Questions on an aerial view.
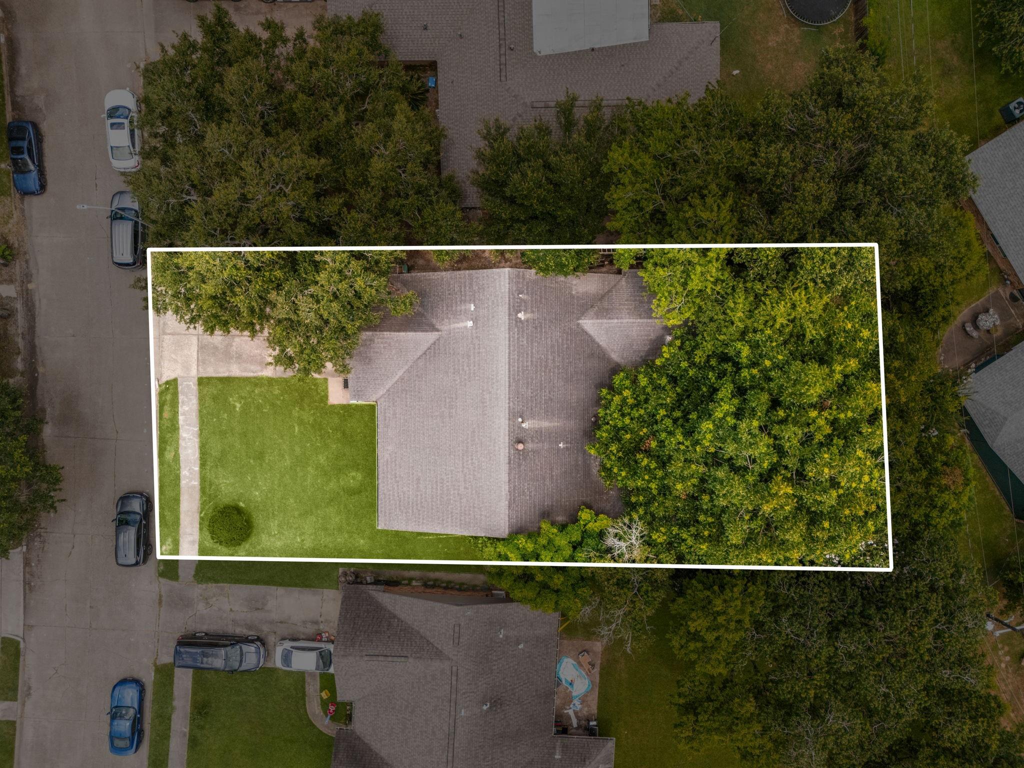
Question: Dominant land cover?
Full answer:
The bulk of the photo consists of trees.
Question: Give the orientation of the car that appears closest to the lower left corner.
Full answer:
I'd say the car that appears closest to the lower left corner is aligned from top to bottom in the picture.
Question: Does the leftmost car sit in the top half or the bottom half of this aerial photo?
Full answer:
You can find the leftmost car in the top half.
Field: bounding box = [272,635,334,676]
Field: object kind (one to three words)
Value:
car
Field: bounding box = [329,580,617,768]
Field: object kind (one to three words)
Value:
house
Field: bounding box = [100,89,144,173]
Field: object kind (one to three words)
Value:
car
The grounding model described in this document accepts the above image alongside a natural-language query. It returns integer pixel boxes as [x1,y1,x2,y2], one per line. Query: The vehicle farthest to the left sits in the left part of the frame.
[5,118,51,198]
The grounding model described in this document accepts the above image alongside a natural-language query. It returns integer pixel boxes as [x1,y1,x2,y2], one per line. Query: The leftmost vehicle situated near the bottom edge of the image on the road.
[106,673,151,757]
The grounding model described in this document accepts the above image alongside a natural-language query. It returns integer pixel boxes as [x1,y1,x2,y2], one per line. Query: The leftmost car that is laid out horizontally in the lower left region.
[173,632,272,679]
